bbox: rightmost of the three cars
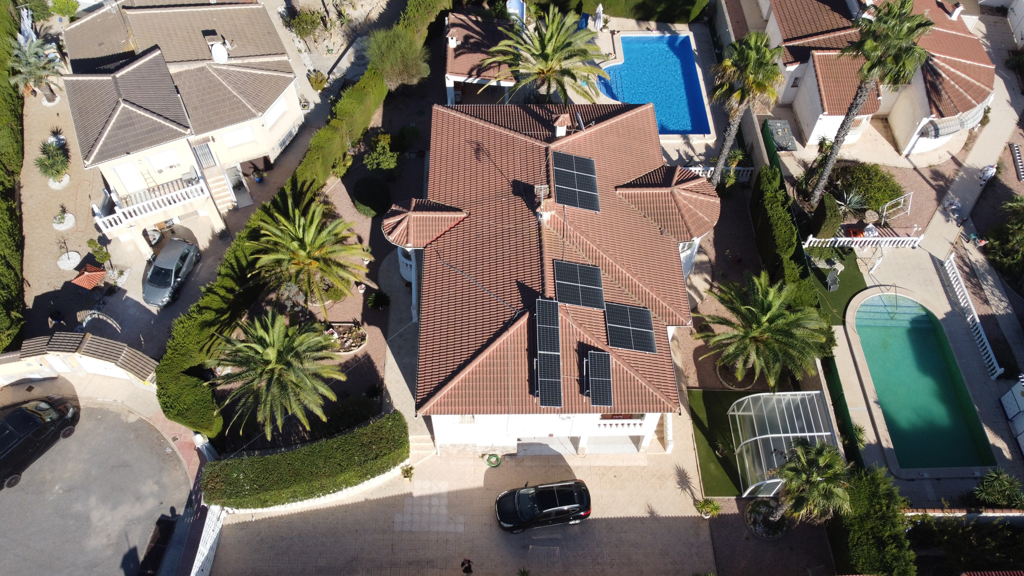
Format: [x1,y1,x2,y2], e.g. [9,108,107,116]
[494,481,593,536]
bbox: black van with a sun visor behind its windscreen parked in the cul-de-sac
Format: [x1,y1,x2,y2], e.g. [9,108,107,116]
[0,409,79,498]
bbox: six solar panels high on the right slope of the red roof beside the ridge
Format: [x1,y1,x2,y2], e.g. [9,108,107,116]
[552,151,600,213]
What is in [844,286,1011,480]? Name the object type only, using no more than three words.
swimming pool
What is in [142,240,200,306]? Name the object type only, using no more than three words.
car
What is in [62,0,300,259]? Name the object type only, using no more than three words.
house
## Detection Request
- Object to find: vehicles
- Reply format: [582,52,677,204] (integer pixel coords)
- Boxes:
[494,481,593,536]
[0,409,79,498]
[142,240,200,306]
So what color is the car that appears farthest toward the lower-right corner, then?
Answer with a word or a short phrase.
black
